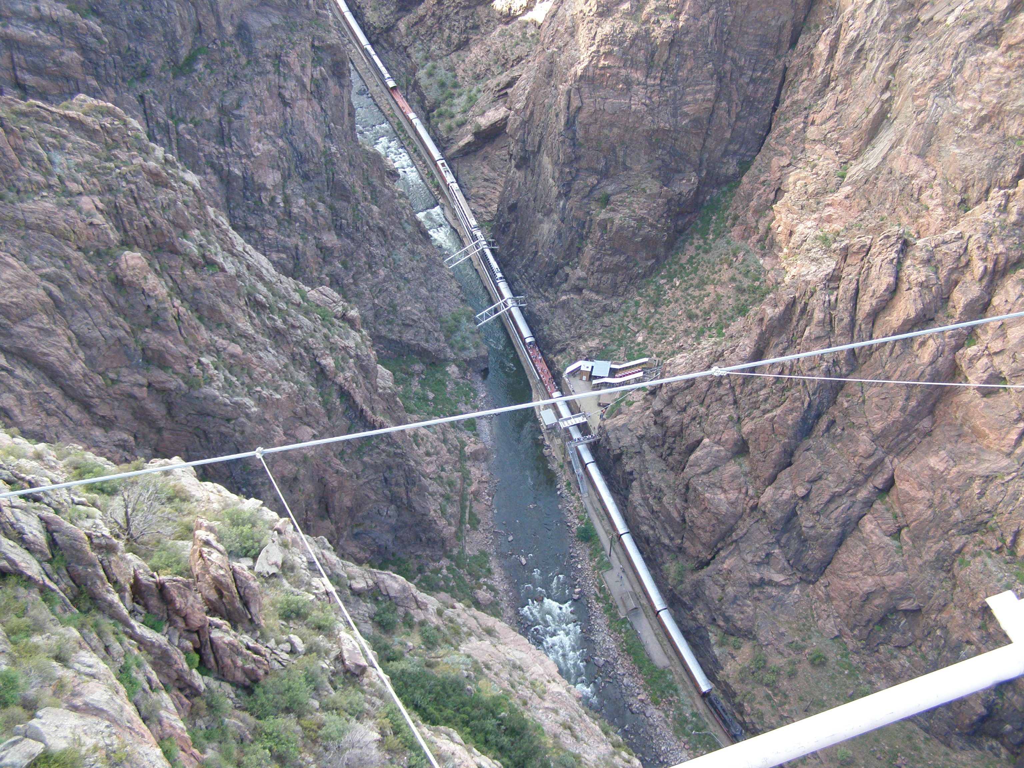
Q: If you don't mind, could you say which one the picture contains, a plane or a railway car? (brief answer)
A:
railway car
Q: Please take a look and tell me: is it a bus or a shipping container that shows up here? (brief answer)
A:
bus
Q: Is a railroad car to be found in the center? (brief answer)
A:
Yes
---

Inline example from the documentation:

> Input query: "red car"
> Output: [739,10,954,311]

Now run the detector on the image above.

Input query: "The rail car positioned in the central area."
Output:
[525,336,561,398]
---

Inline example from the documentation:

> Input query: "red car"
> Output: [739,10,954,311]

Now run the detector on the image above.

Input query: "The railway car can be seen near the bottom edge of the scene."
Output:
[701,694,740,747]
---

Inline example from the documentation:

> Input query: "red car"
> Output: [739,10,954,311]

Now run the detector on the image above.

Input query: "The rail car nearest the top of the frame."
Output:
[387,80,418,125]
